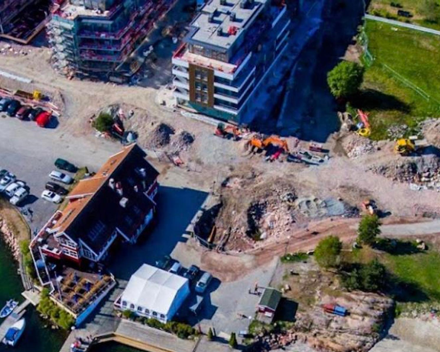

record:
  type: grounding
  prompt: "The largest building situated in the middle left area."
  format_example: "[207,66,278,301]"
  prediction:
[30,136,166,269]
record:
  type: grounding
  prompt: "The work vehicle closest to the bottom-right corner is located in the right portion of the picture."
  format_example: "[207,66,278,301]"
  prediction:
[360,196,385,213]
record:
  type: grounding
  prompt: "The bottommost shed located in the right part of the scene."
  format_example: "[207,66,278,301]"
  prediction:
[254,288,287,318]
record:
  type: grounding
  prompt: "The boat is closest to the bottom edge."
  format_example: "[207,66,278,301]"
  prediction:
[4,318,24,348]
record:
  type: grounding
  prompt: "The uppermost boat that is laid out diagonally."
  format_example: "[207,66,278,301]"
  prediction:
[0,298,20,318]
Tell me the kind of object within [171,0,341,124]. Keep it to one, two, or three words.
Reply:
building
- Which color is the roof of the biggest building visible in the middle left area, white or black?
black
